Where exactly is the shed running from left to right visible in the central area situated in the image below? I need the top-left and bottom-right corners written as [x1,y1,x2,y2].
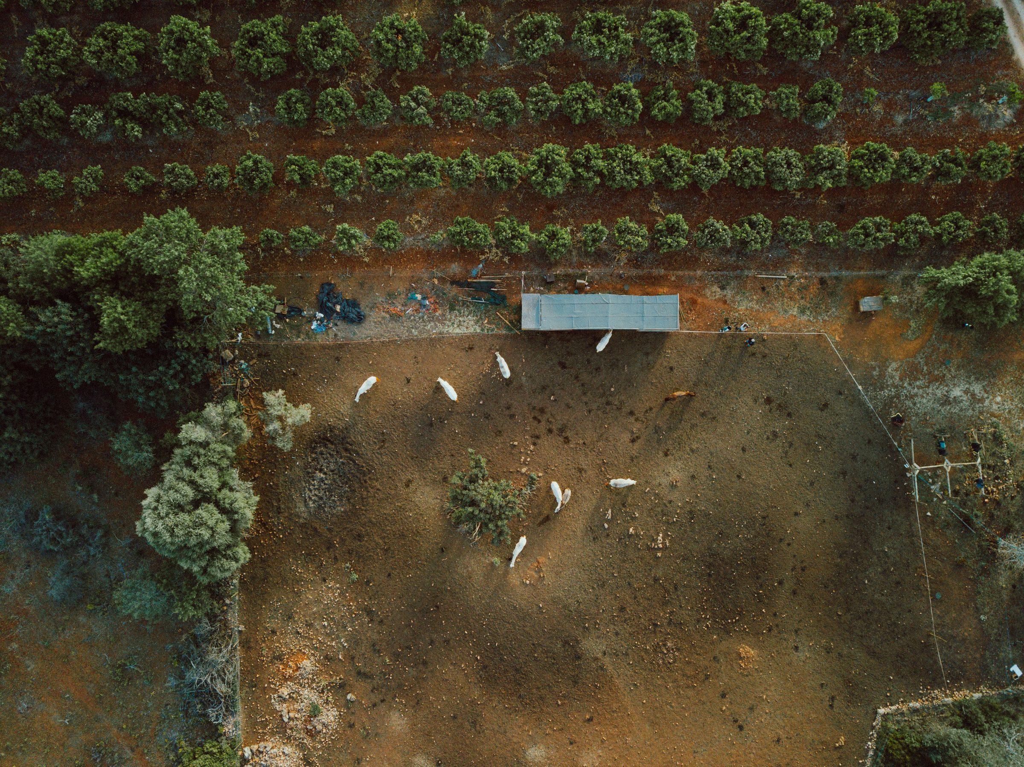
[522,293,679,333]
